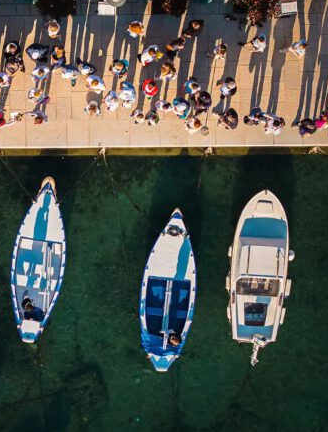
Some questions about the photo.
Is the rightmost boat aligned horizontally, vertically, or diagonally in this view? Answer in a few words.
vertically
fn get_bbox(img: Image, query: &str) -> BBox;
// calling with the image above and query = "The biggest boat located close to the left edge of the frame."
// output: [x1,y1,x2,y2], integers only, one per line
[9,176,66,343]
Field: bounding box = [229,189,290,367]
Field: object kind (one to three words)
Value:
boat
